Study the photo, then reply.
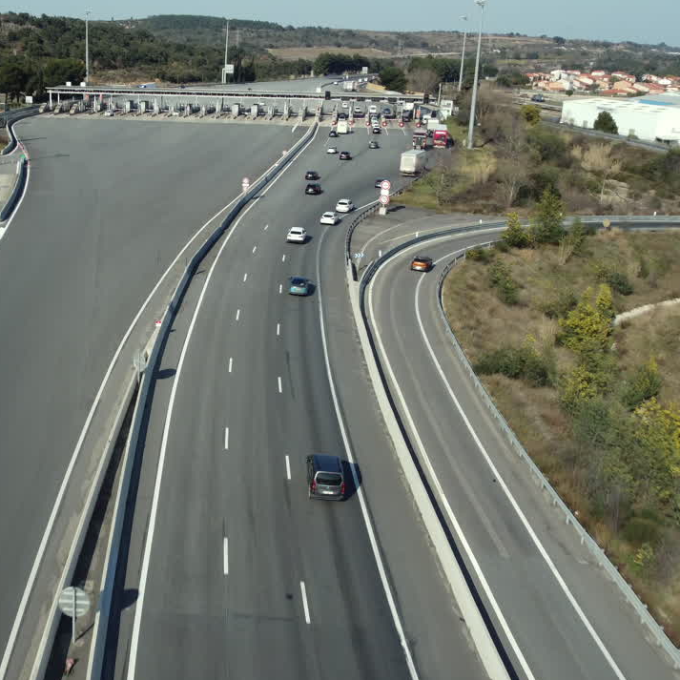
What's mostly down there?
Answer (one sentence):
For the most part, this view shows paved ground.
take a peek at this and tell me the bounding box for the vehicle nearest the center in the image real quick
[288,273,310,292]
